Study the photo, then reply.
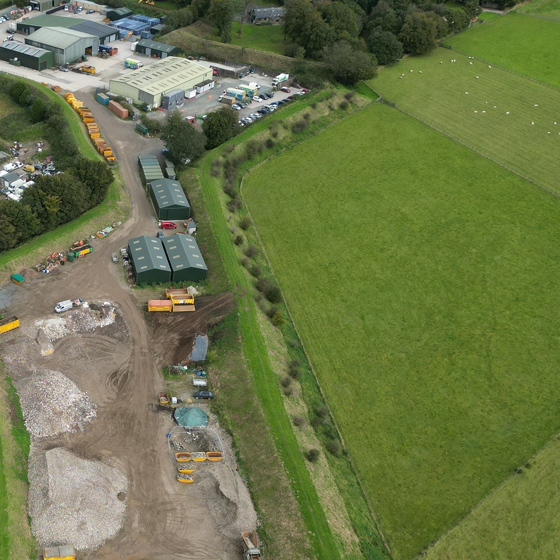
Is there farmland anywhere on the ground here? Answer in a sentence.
Yes, some farmland is visible.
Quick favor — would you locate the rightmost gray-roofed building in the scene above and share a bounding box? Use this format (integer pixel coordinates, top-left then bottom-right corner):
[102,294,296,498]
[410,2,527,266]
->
[253,8,288,26]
